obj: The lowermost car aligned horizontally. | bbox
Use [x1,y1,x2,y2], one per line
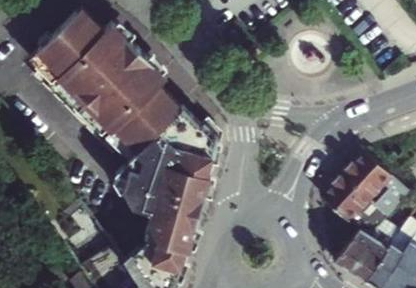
[346,102,372,116]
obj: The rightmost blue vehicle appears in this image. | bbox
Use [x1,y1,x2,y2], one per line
[374,45,399,66]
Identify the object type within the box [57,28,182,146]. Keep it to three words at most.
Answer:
building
